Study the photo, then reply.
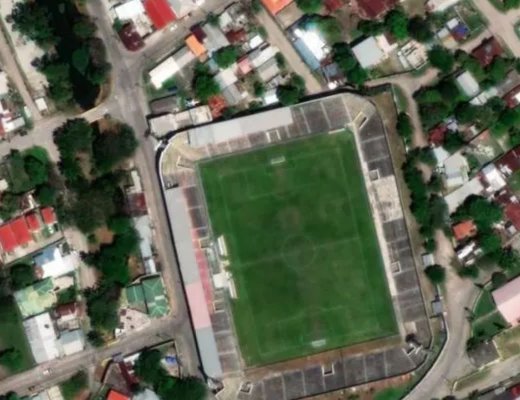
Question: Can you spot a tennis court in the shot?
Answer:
No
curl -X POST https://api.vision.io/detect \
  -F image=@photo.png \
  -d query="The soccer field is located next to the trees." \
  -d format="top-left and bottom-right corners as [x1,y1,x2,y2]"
[199,128,401,366]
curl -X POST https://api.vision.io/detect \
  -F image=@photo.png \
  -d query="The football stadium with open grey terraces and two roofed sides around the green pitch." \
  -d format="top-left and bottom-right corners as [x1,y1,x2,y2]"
[161,92,433,400]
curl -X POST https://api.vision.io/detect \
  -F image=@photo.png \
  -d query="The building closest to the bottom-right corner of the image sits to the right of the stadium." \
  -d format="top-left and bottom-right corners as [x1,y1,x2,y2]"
[471,340,501,370]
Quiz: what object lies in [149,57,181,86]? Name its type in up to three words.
building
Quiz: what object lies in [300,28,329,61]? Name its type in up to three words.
house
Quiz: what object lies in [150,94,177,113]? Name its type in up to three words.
shed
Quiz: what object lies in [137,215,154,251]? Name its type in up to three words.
house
